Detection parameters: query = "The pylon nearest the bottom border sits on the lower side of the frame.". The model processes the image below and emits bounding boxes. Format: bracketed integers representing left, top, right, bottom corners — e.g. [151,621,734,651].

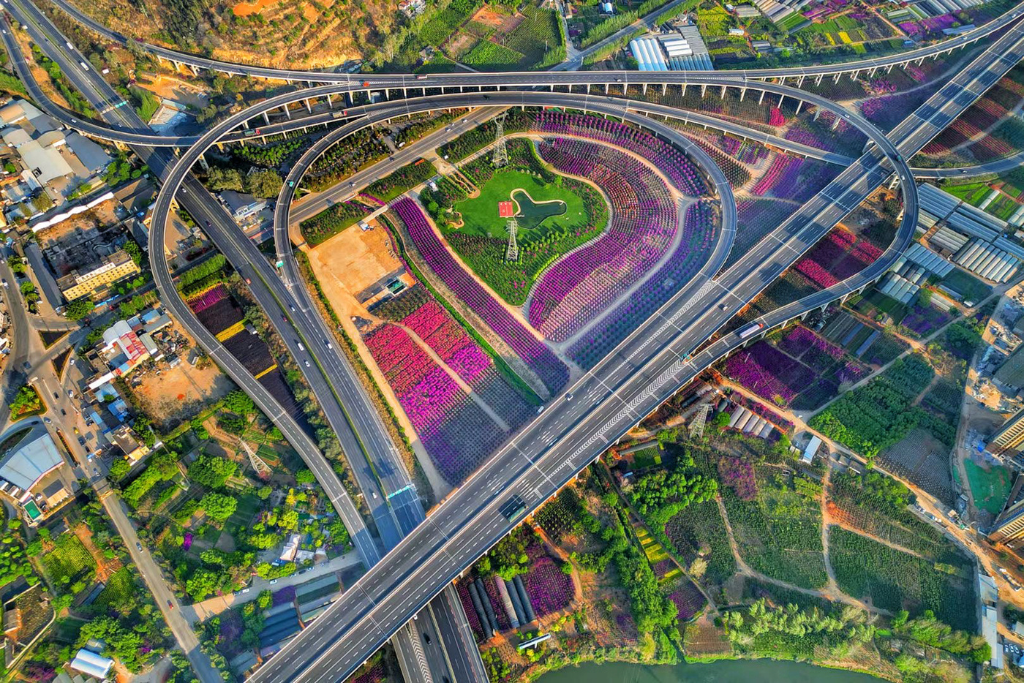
[232,440,270,481]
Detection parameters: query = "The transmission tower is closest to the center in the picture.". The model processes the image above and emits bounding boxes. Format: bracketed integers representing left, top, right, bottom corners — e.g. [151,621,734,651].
[502,225,522,263]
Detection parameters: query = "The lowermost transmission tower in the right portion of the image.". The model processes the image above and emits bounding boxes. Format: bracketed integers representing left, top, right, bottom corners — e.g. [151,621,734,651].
[686,403,721,445]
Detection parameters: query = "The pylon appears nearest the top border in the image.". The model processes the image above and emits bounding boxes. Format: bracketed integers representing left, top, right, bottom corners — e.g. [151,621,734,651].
[492,121,509,168]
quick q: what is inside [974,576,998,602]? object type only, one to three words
shed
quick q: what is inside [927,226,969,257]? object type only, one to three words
greenhouse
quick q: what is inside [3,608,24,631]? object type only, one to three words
house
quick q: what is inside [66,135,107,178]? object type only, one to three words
building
